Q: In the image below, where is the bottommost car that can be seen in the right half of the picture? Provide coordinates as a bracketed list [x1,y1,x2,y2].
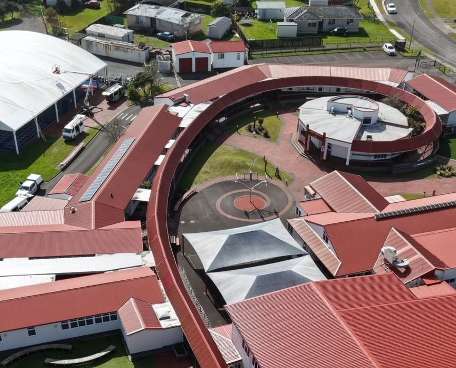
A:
[383,40,397,53]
